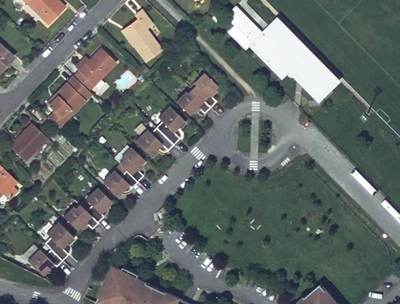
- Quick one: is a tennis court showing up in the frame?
No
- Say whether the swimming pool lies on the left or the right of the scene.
left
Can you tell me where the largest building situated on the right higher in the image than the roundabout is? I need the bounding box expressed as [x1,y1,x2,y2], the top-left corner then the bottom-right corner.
[228,6,342,104]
